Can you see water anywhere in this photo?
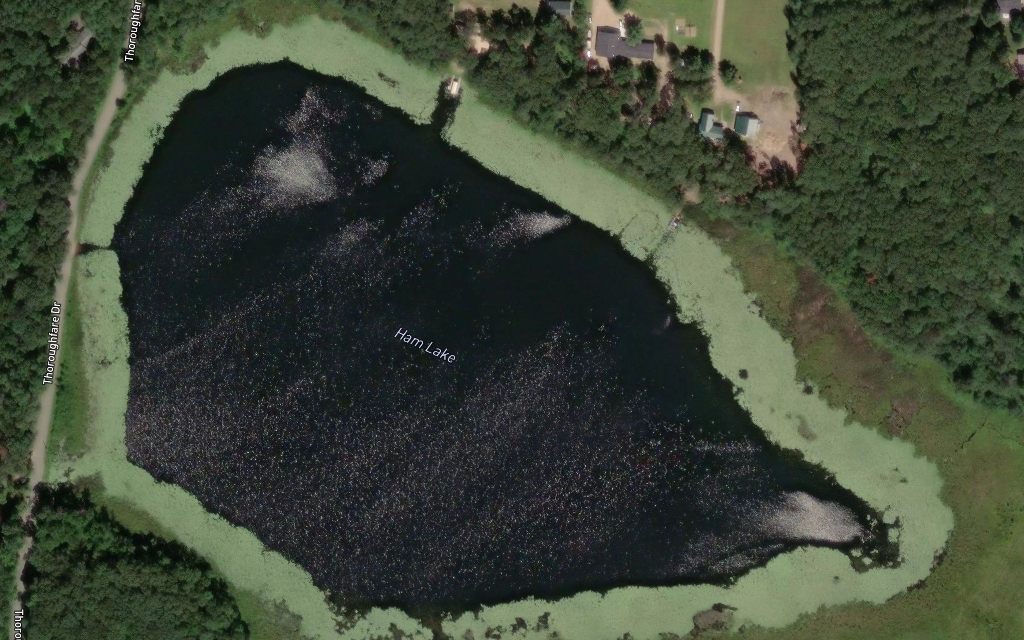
Yes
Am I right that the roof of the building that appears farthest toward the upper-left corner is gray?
Yes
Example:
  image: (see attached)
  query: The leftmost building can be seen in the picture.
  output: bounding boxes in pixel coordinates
[68,30,94,62]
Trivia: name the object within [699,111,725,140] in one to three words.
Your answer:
house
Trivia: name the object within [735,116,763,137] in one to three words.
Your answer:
barn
